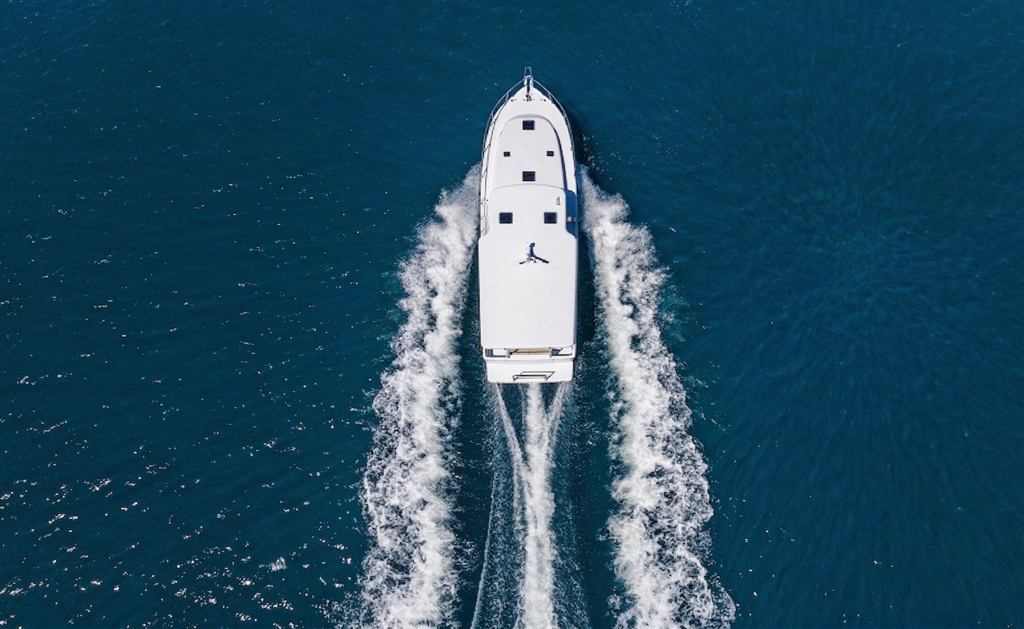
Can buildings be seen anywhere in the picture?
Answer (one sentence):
No, the scene contains no building.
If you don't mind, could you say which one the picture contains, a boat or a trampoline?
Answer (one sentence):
The one in the frame is a boat.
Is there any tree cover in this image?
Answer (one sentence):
No, no tree cover is visible.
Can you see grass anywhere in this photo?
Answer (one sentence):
No, no grass is visible.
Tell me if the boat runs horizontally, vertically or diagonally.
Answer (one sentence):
The boat runs vertically in the image.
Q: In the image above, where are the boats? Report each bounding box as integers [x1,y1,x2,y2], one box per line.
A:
[479,66,579,384]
